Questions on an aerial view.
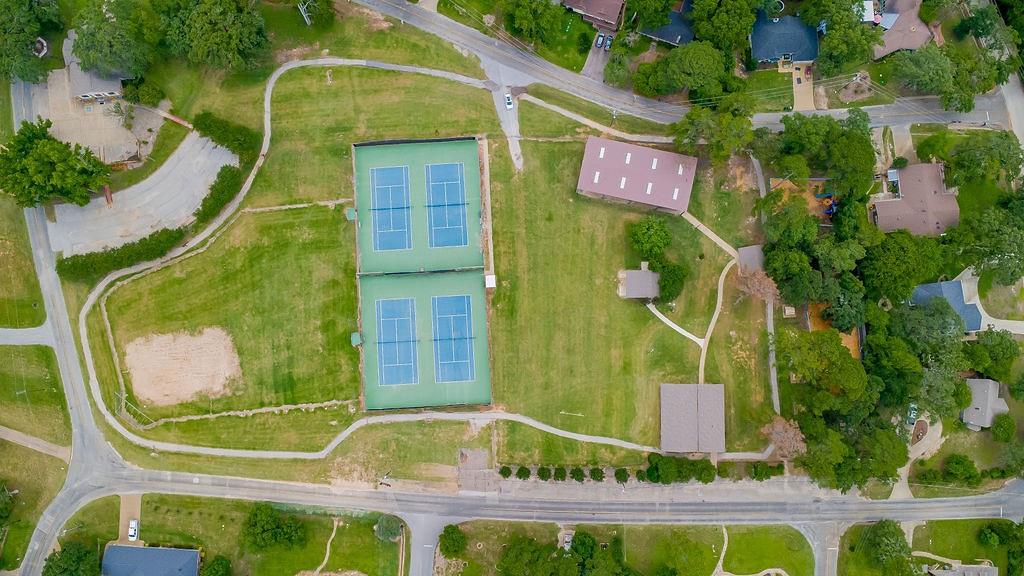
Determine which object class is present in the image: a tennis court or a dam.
tennis court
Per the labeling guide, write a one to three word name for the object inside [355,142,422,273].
tennis court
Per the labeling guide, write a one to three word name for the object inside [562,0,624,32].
house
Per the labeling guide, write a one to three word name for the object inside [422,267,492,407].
tennis court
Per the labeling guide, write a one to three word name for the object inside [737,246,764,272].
shed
